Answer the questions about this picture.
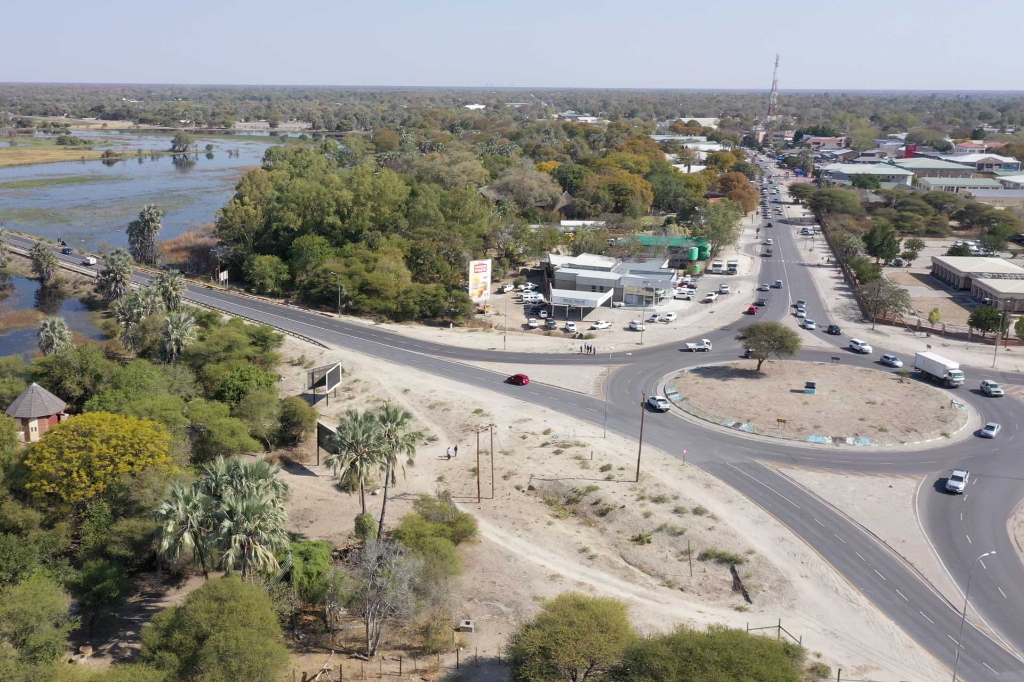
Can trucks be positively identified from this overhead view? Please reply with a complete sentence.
Yes, the image includes a truck.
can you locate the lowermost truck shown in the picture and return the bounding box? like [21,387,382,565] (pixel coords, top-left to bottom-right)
[946,468,970,494]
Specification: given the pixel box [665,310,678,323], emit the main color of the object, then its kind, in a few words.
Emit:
white vehicle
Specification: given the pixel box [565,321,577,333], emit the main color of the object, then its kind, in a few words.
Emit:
white vehicle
